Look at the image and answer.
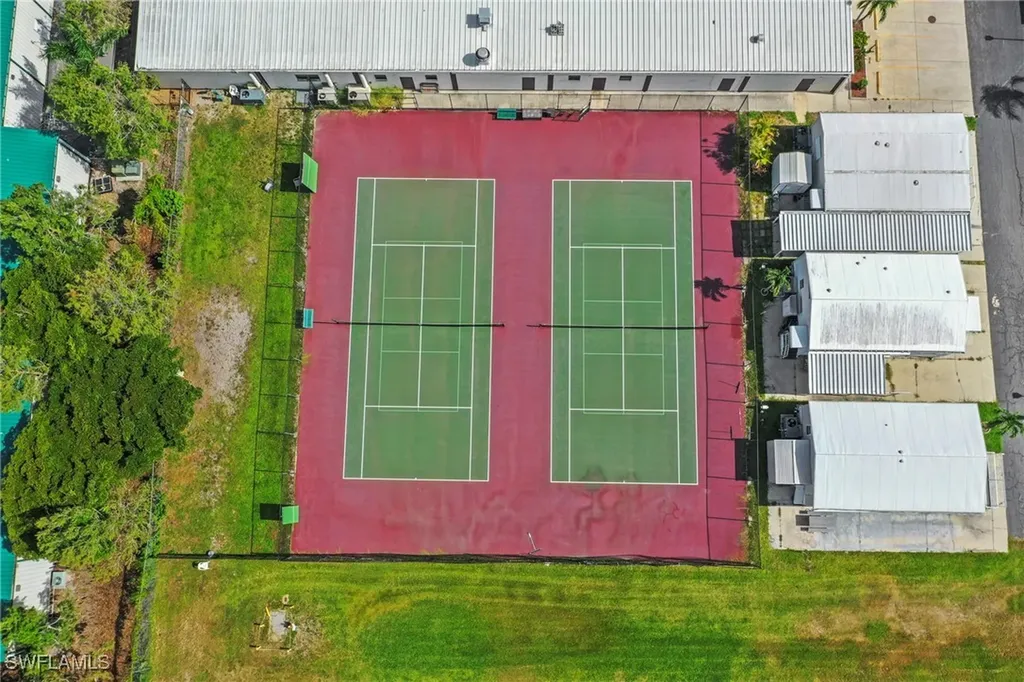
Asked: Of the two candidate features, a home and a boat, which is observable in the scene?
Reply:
home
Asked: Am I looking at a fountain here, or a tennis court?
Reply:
tennis court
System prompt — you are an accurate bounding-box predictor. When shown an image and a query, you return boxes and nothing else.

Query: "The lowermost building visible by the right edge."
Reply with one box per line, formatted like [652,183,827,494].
[798,400,988,515]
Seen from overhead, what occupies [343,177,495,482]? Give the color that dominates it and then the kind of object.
green tennis court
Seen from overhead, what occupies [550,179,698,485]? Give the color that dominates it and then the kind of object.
green tennis court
